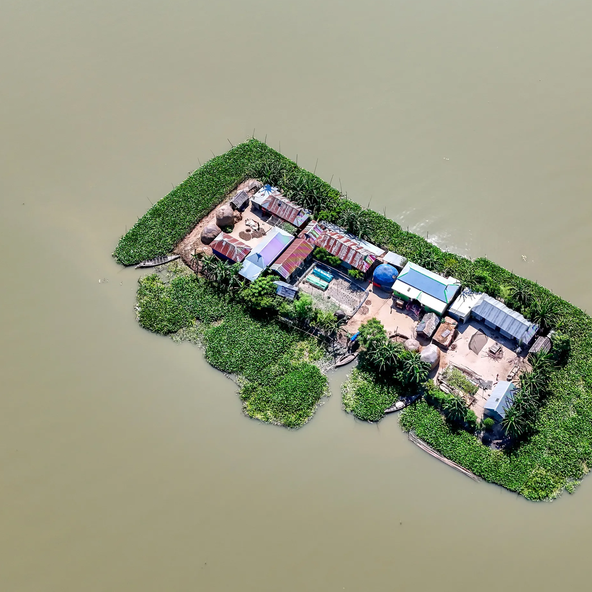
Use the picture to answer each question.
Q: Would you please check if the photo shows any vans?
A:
No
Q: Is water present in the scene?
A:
Yes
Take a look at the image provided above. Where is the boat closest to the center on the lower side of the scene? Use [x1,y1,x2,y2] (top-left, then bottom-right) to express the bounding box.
[335,351,359,366]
